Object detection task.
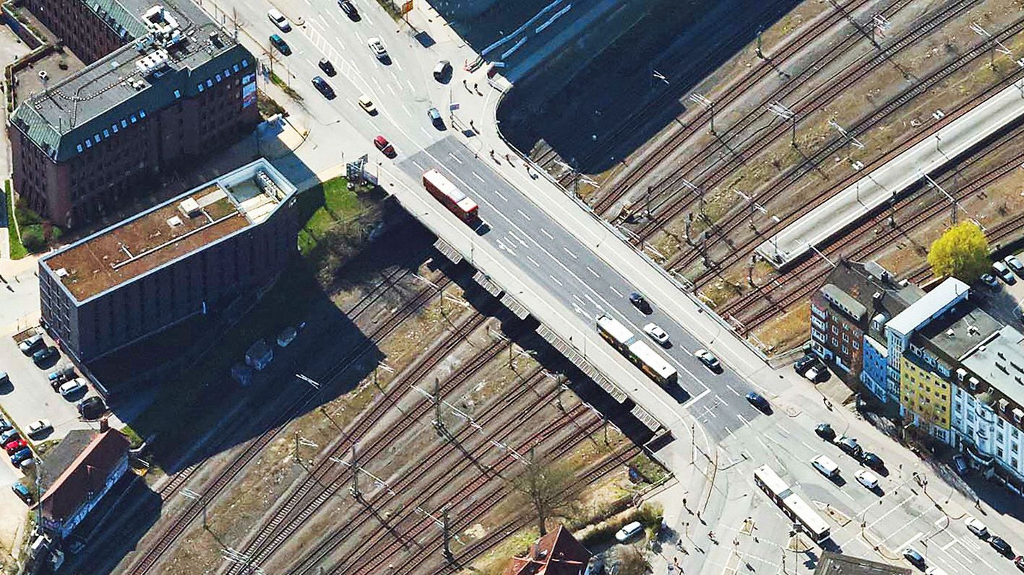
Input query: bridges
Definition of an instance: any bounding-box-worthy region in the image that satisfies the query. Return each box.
[390,83,770,442]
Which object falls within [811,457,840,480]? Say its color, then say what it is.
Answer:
white vehicle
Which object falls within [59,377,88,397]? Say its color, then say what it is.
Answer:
white car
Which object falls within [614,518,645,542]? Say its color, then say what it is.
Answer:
white vehicle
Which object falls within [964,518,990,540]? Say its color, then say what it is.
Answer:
white car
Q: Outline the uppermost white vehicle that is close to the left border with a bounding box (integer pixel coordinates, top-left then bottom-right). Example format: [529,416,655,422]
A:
[17,333,46,353]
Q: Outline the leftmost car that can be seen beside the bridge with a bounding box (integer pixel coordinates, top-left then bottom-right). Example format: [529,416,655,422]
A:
[373,137,395,156]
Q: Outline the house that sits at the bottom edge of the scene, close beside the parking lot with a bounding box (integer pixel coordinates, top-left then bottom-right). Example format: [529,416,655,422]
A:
[28,415,135,553]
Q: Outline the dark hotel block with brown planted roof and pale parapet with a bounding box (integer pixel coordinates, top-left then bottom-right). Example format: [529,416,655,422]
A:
[39,157,302,377]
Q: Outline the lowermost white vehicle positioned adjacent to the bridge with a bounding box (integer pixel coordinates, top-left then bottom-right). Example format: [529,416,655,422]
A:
[753,465,832,546]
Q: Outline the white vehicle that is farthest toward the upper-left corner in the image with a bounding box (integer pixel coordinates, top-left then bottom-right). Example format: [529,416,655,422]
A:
[267,10,292,31]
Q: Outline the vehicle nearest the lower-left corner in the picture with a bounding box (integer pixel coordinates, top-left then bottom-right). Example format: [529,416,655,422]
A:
[10,484,33,504]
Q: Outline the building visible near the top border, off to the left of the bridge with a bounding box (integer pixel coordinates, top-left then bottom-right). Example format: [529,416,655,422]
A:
[9,0,259,228]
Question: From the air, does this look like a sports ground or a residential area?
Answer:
residential area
